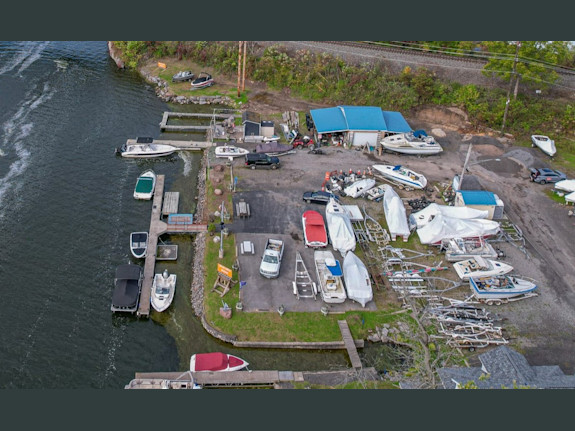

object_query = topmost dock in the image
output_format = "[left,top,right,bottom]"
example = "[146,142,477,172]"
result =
[160,112,230,133]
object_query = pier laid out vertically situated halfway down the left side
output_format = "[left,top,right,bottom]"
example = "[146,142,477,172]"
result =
[138,174,164,319]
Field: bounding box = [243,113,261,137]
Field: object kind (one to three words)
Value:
shed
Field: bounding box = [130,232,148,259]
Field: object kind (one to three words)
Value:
boat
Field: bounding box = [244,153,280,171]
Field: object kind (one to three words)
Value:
car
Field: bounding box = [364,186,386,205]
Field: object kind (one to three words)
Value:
boat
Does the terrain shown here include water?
Yes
